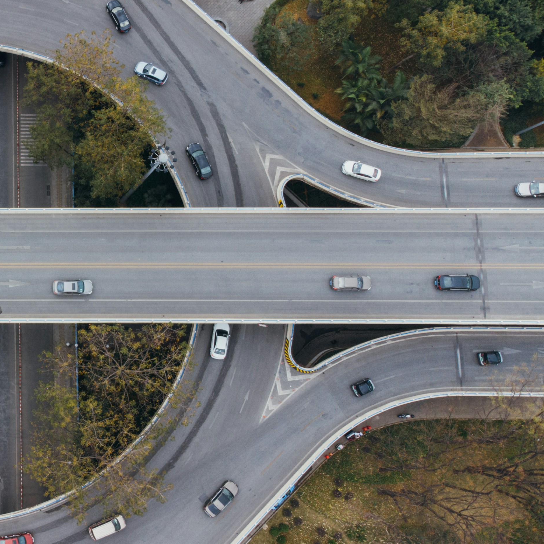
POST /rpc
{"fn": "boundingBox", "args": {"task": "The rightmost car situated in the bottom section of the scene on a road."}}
[476,349,502,366]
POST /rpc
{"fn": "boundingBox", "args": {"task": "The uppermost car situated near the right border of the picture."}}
[514,180,544,198]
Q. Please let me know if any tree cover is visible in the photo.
Yes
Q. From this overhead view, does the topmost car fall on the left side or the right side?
left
